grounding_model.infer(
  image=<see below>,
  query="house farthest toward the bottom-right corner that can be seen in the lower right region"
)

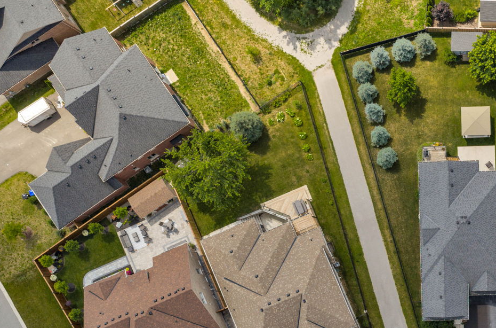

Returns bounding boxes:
[418,160,496,322]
